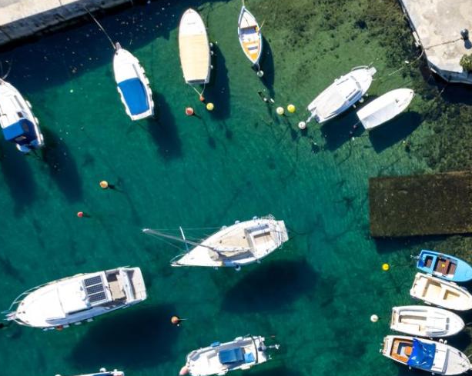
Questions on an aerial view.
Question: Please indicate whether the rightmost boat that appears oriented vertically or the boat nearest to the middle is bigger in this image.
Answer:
the boat nearest to the middle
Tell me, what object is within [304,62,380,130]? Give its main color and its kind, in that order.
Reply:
white boat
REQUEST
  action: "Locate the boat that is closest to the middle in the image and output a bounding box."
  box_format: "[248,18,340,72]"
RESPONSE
[141,217,296,271]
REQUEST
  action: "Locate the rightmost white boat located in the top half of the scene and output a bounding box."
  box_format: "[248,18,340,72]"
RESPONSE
[355,79,440,132]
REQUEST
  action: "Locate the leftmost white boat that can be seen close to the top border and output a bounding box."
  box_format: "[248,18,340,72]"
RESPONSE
[82,5,157,124]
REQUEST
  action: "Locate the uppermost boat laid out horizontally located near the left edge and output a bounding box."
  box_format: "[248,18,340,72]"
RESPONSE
[0,263,154,326]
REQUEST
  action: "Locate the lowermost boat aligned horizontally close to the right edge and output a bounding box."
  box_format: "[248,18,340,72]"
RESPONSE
[381,332,472,375]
